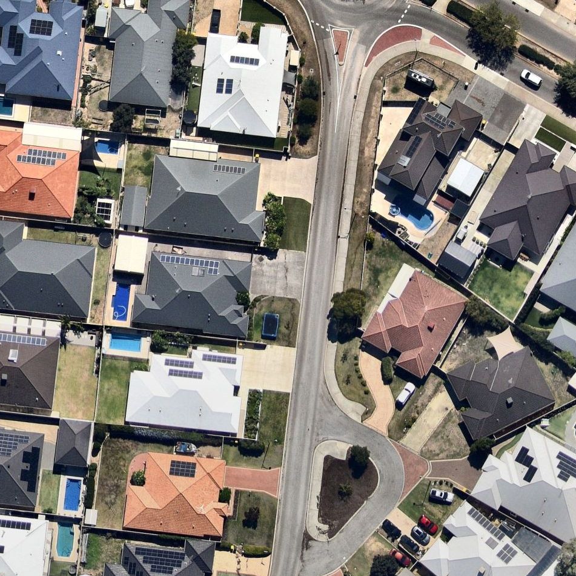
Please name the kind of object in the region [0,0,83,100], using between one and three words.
house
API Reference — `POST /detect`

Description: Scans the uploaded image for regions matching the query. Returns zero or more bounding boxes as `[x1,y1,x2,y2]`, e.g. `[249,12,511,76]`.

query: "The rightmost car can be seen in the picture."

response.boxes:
[519,70,543,87]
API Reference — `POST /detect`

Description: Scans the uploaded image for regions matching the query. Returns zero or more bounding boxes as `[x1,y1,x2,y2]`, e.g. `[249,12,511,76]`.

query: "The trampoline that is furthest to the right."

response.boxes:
[261,312,277,337]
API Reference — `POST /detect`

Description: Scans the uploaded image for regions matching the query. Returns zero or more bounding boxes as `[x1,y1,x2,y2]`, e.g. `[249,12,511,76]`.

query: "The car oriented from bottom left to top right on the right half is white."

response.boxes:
[395,384,415,407]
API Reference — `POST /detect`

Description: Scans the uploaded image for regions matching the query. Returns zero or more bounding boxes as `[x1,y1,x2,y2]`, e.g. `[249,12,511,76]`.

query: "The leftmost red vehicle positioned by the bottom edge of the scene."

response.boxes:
[391,548,410,567]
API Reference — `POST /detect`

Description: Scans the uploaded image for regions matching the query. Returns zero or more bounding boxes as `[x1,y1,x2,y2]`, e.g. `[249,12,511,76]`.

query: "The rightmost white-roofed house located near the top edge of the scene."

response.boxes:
[197,26,287,137]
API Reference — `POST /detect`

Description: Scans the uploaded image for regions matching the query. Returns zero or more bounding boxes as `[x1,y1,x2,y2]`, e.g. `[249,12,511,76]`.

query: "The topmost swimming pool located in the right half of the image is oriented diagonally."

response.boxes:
[389,183,433,227]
